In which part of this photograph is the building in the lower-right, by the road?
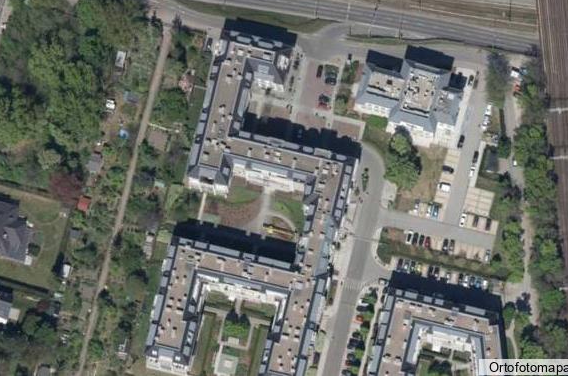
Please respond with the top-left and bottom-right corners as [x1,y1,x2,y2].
[370,293,514,376]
